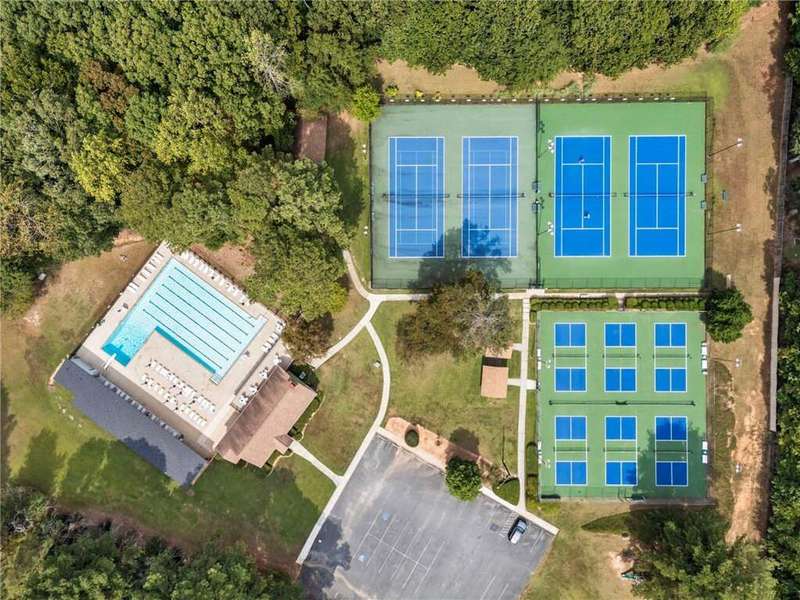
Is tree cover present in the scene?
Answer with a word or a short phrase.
Yes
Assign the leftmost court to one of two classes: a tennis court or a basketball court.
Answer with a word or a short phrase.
tennis court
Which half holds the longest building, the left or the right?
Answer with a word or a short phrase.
left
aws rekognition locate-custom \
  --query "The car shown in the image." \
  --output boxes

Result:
[509,520,528,546]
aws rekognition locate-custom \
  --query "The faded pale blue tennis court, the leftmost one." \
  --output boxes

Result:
[370,103,454,288]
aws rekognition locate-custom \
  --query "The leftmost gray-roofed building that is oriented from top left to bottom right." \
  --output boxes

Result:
[52,355,214,488]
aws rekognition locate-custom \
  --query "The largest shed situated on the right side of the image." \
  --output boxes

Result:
[480,365,509,398]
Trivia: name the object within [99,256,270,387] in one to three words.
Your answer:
swimming pool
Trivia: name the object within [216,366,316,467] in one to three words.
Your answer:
building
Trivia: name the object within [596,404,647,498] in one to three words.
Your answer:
sports court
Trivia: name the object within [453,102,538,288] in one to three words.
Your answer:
tennis court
